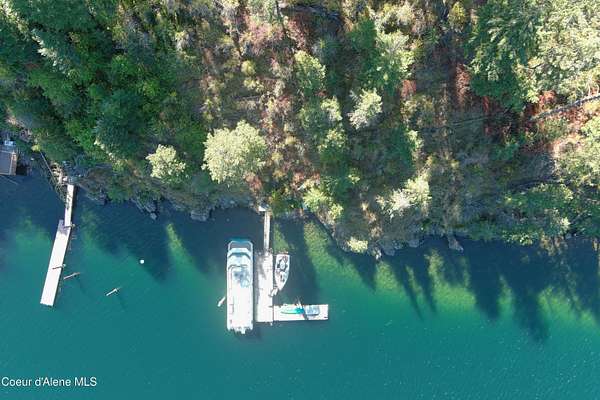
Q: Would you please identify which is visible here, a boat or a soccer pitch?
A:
boat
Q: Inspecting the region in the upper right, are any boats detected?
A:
No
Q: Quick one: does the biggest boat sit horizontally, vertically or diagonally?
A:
vertically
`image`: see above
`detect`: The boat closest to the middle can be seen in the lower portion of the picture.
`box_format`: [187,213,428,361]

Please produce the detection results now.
[275,248,291,292]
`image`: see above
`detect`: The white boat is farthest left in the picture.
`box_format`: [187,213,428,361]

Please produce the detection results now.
[227,238,254,338]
